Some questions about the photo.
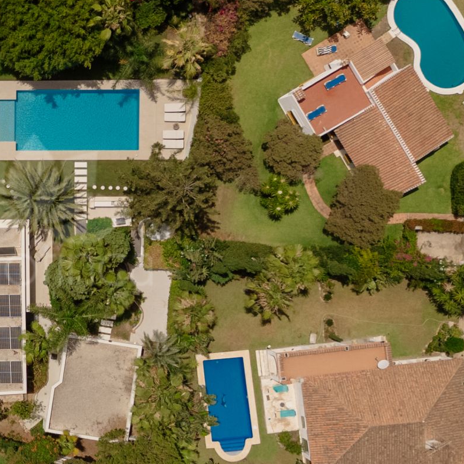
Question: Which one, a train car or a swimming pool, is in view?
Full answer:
Of the two, only a swimming pool appears.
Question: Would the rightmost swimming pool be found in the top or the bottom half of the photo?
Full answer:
The top half of the photo is where the rightmost swimming pool is.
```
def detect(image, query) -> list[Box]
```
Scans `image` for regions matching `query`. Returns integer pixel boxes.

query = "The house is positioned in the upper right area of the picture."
[266,39,454,207]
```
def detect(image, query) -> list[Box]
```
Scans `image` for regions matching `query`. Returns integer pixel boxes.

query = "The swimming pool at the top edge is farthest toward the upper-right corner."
[387,0,464,95]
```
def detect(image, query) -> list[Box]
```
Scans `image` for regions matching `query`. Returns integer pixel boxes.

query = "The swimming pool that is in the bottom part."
[196,350,261,462]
